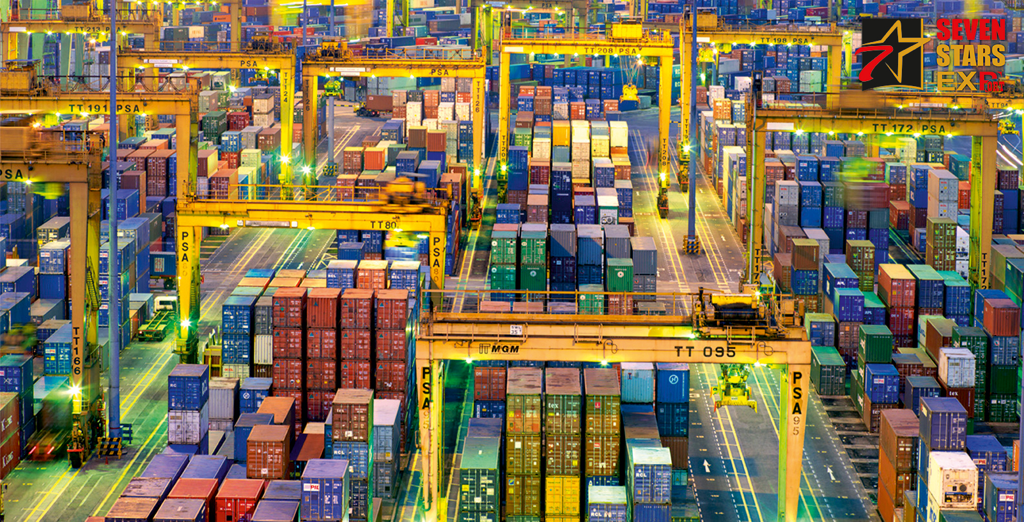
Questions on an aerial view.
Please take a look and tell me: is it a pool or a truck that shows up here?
truck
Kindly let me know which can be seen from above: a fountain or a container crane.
container crane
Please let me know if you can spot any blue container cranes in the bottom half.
No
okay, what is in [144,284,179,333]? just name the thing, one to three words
truck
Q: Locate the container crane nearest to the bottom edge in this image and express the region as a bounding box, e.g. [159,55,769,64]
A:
[418,294,820,522]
